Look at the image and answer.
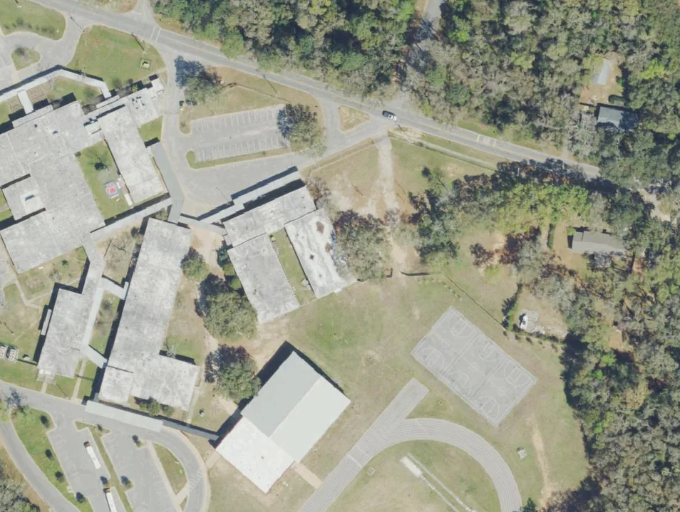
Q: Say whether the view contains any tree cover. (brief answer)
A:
Yes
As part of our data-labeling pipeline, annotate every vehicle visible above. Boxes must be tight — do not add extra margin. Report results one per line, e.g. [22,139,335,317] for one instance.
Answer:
[86,442,100,468]
[522,313,528,328]
[105,486,117,512]
[383,112,397,120]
